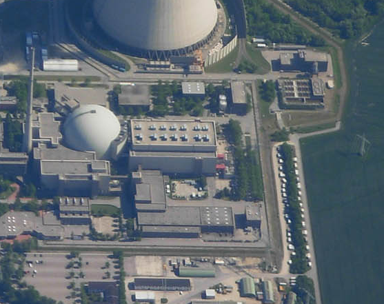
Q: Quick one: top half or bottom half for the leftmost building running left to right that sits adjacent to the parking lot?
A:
bottom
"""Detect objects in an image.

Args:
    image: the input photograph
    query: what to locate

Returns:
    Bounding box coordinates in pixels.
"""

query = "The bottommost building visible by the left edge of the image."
[0,211,65,241]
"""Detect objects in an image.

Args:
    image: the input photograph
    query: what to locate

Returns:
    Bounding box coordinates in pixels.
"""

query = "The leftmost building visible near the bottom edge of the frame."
[88,282,119,304]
